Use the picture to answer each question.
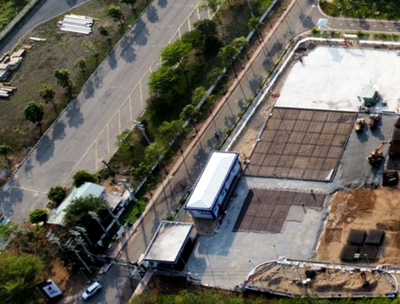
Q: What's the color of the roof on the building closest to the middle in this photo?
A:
white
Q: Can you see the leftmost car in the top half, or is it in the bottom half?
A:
bottom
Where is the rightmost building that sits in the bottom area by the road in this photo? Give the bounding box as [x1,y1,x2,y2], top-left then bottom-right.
[183,149,244,221]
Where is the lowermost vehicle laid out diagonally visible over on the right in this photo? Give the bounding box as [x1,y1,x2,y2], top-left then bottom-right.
[363,137,400,165]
